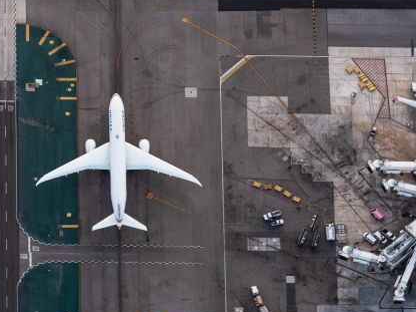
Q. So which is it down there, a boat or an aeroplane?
aeroplane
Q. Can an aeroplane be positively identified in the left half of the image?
Yes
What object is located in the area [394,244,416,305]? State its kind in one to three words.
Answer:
jet bridge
